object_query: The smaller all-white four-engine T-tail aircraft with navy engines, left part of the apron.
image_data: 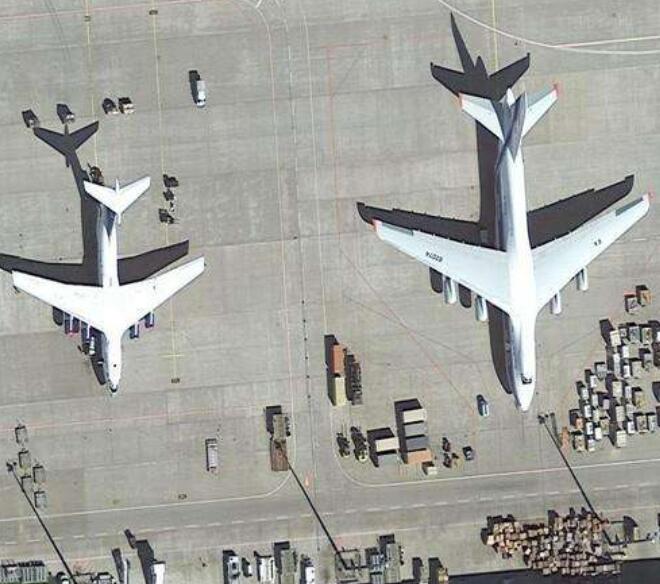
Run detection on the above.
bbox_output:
[10,174,204,393]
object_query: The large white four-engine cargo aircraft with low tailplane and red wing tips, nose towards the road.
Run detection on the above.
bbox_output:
[374,83,650,411]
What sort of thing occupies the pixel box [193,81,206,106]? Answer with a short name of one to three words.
vehicle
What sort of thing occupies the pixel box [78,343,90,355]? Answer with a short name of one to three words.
vehicle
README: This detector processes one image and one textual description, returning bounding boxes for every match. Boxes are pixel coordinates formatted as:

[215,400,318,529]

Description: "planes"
[10,174,204,393]
[374,83,650,411]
